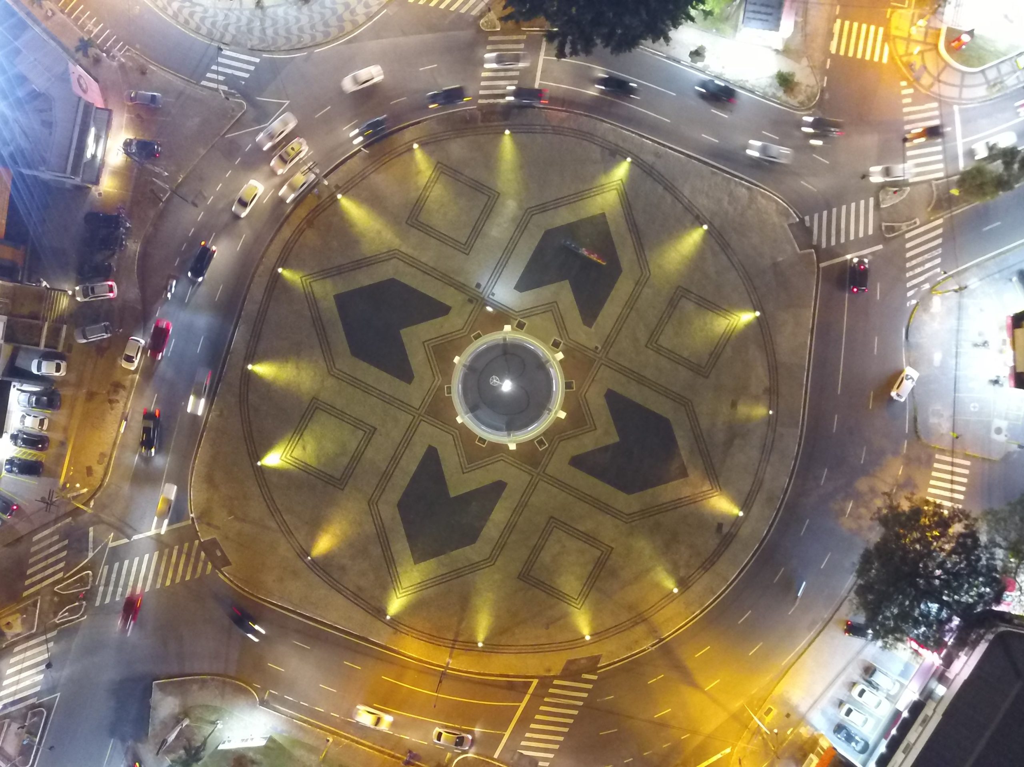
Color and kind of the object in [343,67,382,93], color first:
white car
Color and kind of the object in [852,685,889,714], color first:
white car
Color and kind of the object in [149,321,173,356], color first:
red car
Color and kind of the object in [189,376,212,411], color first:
gray car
